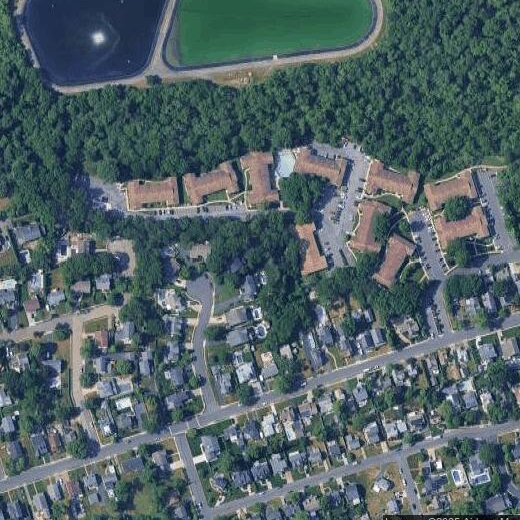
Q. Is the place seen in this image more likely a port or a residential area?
residential area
